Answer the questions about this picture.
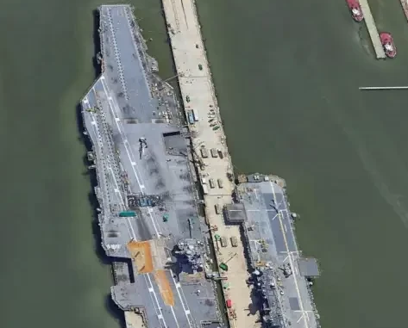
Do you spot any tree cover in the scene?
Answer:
No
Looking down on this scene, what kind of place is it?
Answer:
port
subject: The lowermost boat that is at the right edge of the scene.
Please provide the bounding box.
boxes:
[379,31,397,58]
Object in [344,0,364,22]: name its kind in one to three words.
boat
